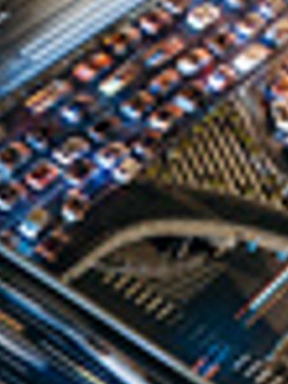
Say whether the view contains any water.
No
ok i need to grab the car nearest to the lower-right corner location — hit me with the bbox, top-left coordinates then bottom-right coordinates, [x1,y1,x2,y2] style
[192,347,227,376]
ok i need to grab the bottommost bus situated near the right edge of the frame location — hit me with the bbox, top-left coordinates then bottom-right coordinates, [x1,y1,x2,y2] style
[222,250,288,332]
